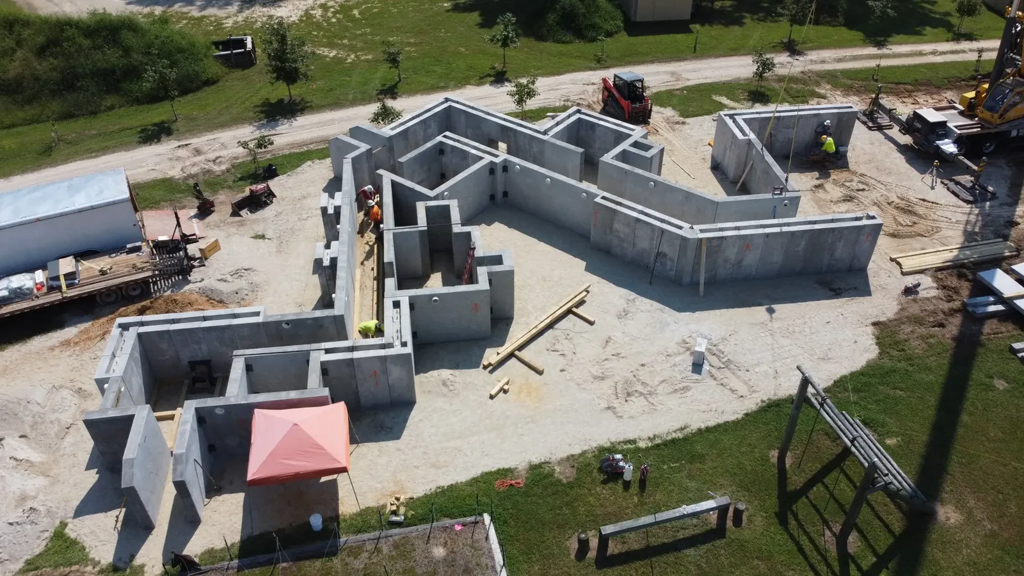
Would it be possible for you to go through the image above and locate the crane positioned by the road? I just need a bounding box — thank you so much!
[875,0,1024,186]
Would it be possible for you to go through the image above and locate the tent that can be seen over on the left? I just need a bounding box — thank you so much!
[248,402,357,525]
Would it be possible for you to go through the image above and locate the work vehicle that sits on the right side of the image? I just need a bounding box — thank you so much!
[604,80,651,131]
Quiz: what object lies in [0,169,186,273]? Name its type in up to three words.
trailer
